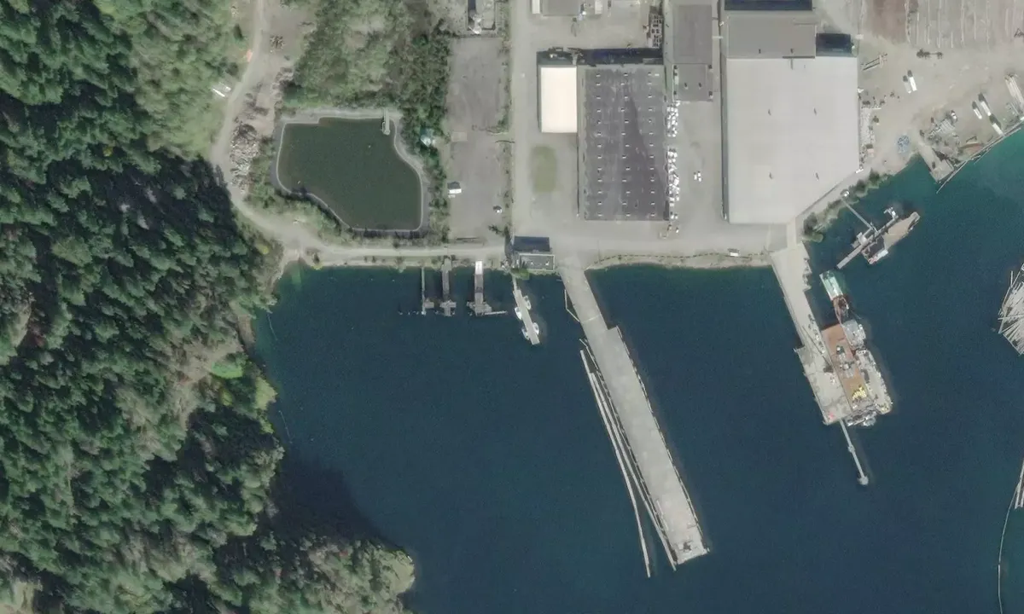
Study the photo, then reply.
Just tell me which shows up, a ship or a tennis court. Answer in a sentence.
Looking from above, you can make out a ship.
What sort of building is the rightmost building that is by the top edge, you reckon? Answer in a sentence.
It turns out the rightmost building that is by the top edge is a warehouse.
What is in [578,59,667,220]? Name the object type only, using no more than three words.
building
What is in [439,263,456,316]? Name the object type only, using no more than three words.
pier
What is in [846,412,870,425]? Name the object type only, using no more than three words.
boat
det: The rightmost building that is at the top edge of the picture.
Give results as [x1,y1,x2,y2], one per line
[722,13,859,224]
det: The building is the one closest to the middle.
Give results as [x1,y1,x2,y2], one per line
[516,247,554,271]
